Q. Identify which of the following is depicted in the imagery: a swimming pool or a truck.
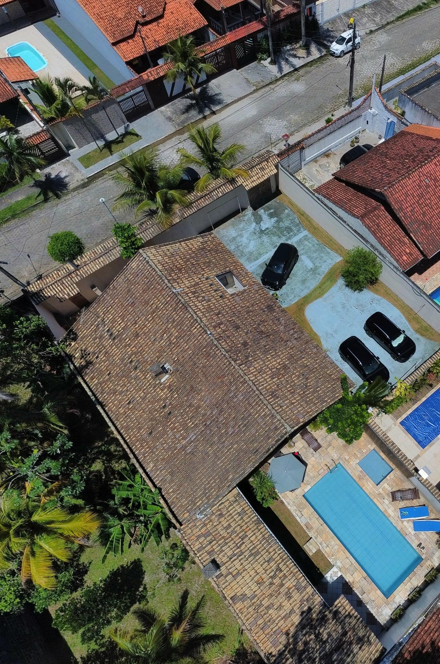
swimming pool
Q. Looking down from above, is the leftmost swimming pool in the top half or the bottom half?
top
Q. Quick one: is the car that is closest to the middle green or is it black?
black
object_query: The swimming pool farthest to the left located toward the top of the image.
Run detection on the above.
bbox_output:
[4,39,52,72]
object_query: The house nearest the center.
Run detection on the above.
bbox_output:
[65,230,356,523]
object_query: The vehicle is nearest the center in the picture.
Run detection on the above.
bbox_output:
[261,236,299,292]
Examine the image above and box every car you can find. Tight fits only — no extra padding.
[362,312,418,365]
[329,148,363,181]
[261,236,299,292]
[331,26,364,58]
[337,336,395,391]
